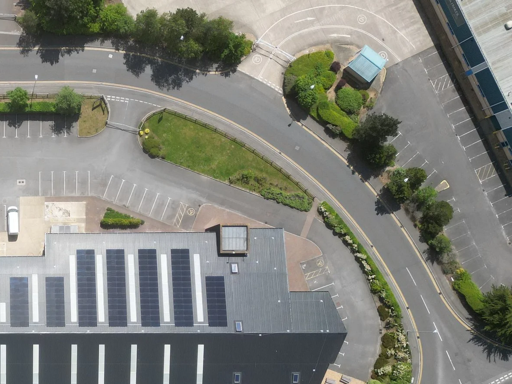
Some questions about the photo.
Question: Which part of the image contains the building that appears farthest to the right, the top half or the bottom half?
top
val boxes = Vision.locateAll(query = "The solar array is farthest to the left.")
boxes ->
[10,277,29,328]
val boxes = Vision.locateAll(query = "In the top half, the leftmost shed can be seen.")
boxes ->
[342,45,389,84]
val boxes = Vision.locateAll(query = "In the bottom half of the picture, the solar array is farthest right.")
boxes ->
[206,275,227,328]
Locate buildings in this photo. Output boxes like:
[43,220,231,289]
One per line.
[427,0,512,172]
[342,45,389,84]
[0,224,347,384]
